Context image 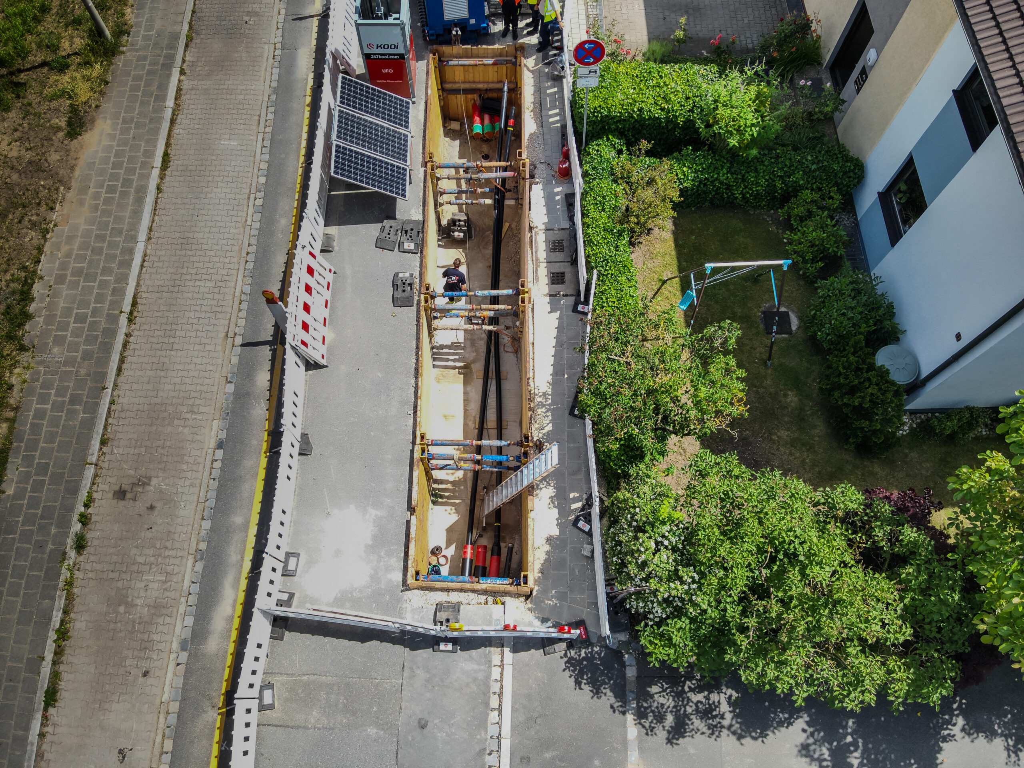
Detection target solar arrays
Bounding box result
[326,74,412,211]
